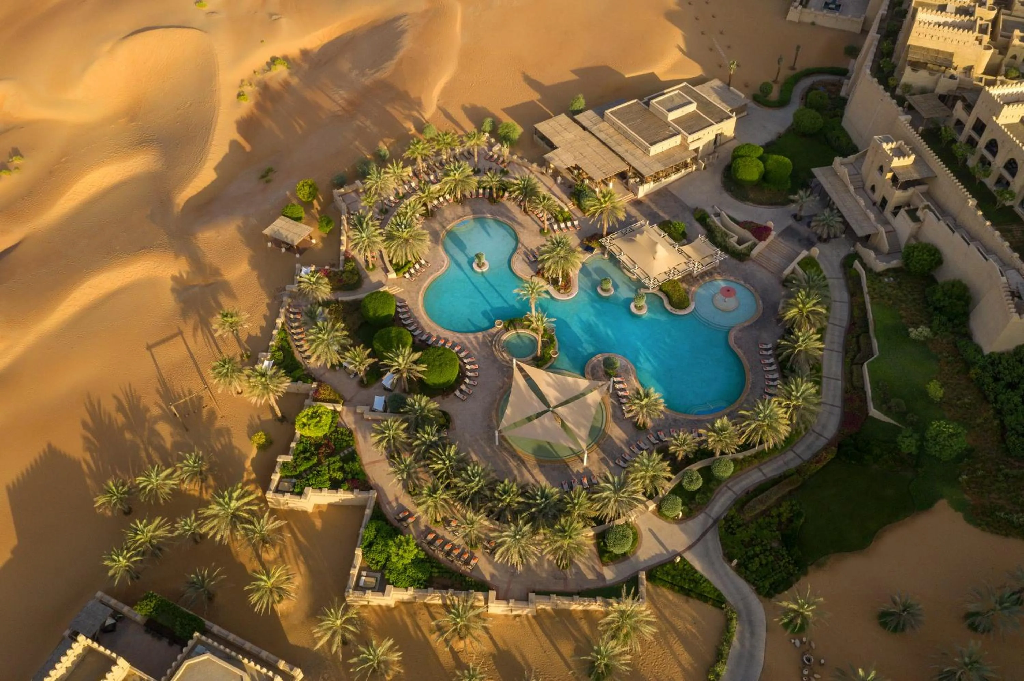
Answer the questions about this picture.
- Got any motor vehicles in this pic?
No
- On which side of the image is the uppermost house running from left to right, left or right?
right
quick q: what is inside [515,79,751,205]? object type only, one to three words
building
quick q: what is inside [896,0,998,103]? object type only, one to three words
house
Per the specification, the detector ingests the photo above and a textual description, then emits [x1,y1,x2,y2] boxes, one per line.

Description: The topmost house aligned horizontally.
[787,0,869,34]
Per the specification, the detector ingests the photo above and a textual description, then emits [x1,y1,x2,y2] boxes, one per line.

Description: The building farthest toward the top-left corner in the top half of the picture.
[261,216,314,257]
